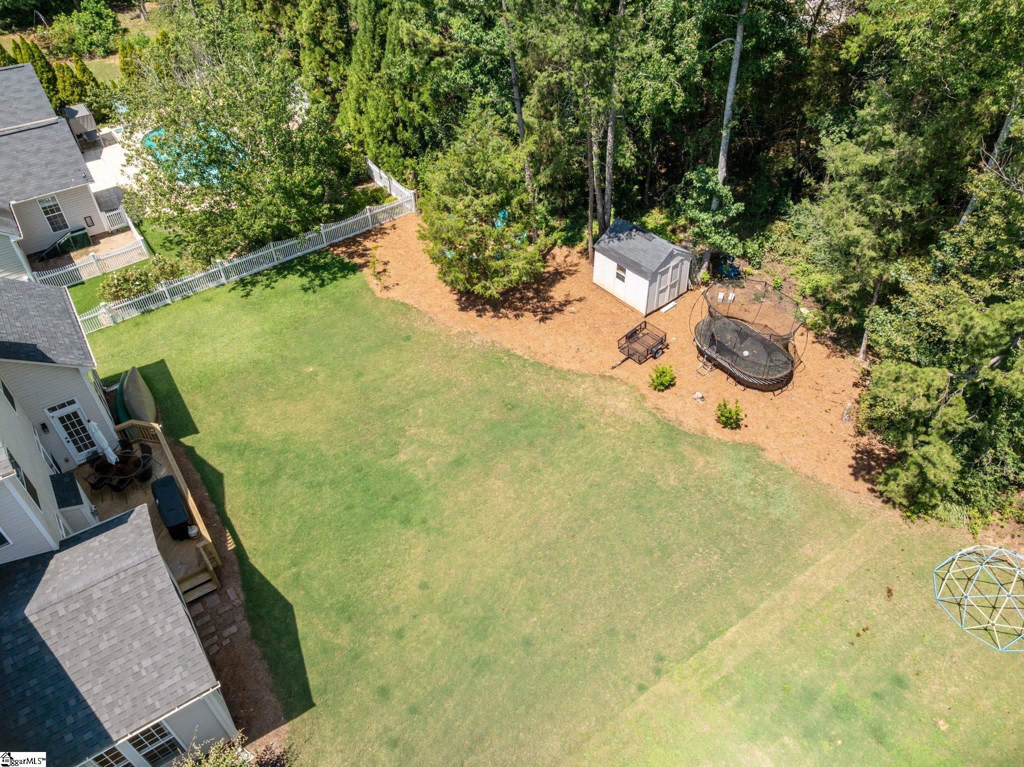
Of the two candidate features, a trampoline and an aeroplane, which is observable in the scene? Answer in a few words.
trampoline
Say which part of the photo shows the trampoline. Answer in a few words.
right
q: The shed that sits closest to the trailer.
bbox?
[591,219,696,316]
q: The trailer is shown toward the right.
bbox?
[609,321,674,368]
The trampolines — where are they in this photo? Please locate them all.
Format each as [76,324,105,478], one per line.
[683,280,812,400]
